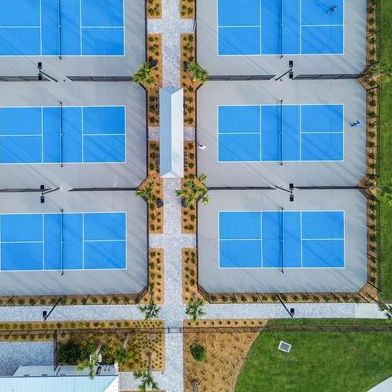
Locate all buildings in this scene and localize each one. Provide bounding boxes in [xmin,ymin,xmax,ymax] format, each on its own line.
[159,88,183,178]
[0,365,121,392]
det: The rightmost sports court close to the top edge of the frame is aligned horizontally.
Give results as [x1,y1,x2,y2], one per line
[196,0,369,81]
